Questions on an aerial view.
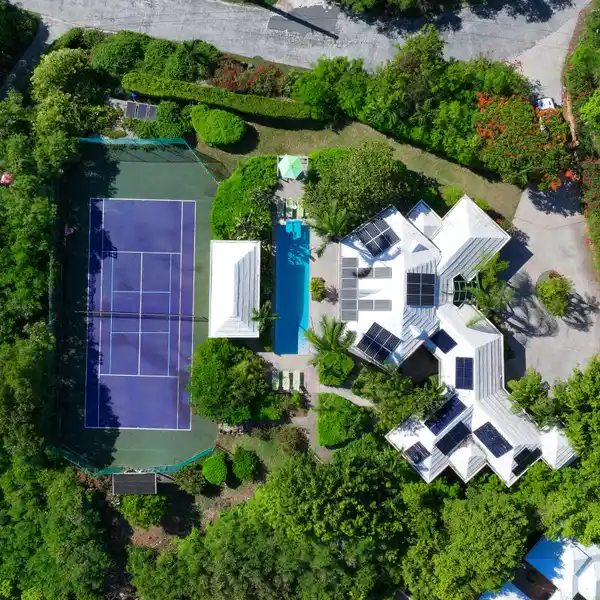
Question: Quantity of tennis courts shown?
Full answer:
In total, there is 1 tennis court in the scene.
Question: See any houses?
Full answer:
Yes, I can see a house in this picture.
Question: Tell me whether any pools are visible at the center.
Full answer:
Yes, a pool appears at the center.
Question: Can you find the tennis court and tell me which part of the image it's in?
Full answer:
The tennis court is located in the left region of the scene.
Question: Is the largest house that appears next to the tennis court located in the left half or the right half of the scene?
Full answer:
The largest house that appears next to the tennis court appears in the right half of the scene.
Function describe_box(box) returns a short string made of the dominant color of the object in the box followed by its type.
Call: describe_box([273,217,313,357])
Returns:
blue swimming pool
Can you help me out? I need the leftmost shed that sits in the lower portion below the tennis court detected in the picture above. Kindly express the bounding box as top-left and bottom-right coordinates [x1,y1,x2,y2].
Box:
[112,472,159,495]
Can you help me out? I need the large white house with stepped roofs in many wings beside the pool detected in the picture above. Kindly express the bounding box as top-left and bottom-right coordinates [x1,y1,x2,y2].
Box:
[340,195,571,486]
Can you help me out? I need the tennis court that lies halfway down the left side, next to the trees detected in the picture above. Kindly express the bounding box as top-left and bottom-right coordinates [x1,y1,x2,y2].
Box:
[62,147,220,466]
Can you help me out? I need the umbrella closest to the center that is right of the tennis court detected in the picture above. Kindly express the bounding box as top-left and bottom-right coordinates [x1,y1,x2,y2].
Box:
[279,153,305,181]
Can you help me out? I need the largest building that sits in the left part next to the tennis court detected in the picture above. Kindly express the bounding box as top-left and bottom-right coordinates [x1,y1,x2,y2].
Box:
[209,240,261,338]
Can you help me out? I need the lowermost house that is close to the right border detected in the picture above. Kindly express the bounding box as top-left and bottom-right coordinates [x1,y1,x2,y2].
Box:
[480,529,600,600]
